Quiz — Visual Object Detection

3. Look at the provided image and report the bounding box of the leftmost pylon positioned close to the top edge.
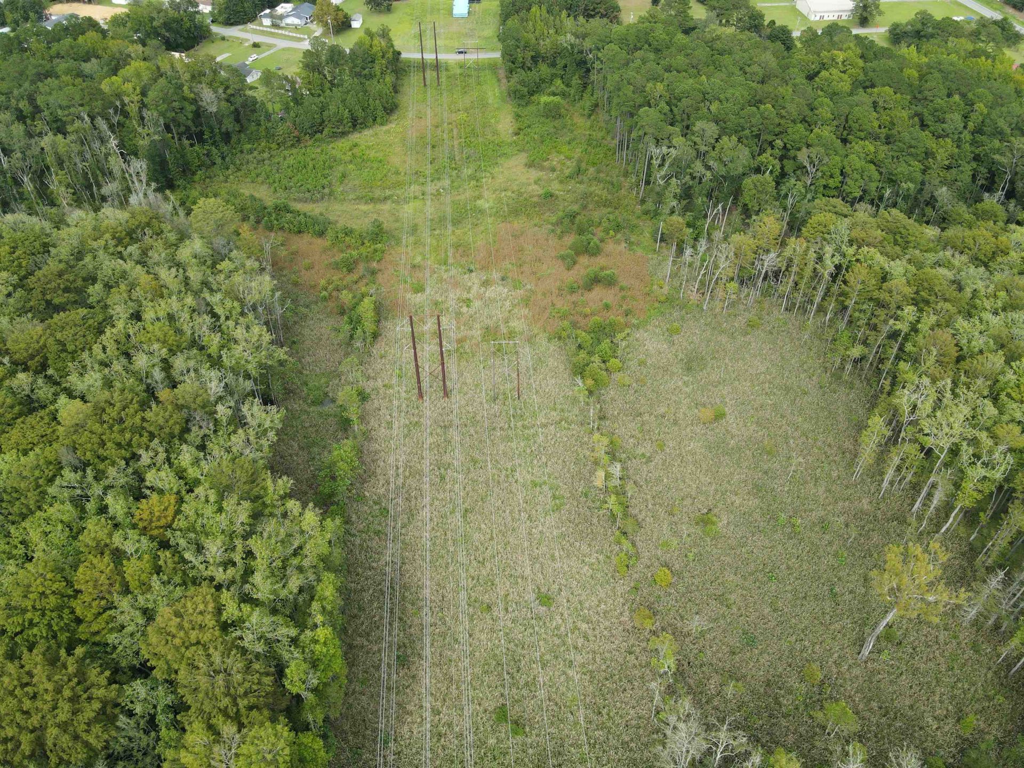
[416,24,443,86]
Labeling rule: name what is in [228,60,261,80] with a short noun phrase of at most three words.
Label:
house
